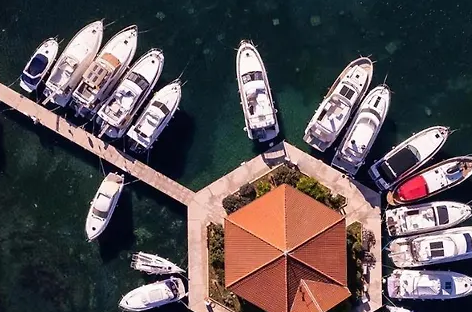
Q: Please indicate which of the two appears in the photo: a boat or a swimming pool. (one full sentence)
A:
It is a boat that can be seen here.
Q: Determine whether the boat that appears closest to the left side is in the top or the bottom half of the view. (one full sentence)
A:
The boat that appears closest to the left side sits in the top half of the picture.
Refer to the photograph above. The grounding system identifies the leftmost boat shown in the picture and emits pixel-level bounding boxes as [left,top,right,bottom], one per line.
[10,32,66,97]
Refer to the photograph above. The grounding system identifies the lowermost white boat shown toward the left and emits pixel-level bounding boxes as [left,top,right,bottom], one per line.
[116,278,191,311]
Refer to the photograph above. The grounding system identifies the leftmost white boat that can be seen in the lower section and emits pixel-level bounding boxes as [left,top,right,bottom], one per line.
[83,158,140,242]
